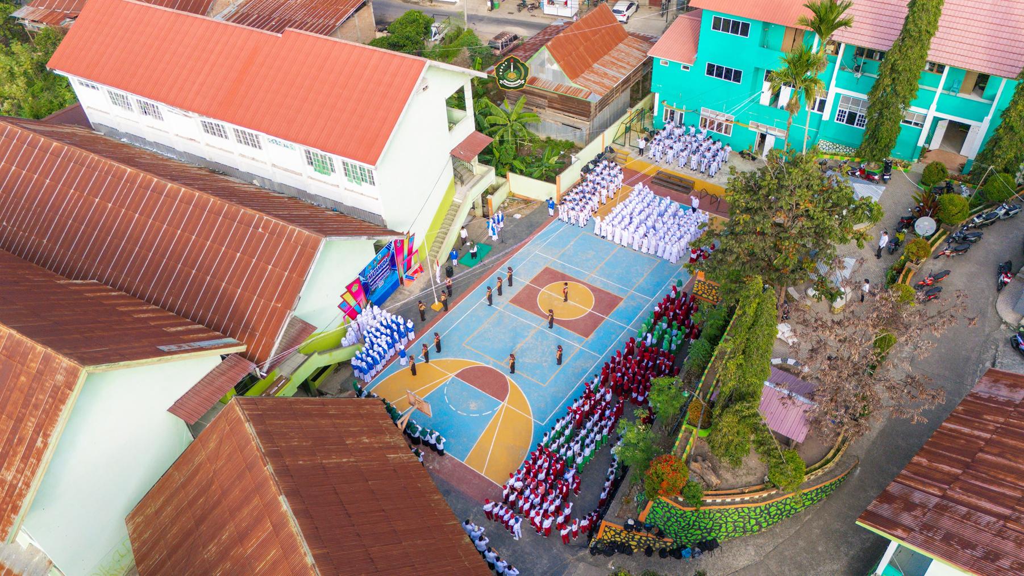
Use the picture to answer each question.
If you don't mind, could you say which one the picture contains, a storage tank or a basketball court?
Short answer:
basketball court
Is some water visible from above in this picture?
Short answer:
No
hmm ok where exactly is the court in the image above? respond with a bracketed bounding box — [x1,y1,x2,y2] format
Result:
[336,168,726,517]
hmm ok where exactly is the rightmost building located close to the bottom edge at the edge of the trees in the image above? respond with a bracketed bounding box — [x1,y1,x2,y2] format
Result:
[855,367,1024,576]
